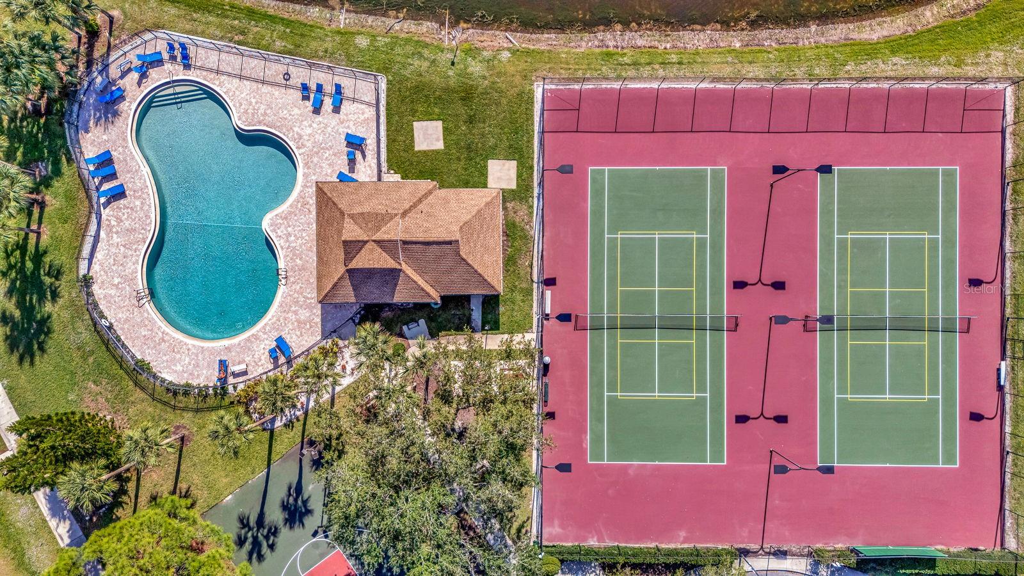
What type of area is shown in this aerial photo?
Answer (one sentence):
This image shows a sports ground.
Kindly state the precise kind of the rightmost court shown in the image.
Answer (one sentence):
From above, the rightmost court can be identified as a tennis court.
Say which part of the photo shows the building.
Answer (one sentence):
The building is in the center part of the image.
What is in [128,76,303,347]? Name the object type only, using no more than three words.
swimming pool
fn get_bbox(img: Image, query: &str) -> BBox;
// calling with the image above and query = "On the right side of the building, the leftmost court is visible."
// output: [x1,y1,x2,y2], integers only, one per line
[544,87,772,547]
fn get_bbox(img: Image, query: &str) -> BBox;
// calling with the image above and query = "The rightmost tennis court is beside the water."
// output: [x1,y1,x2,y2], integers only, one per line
[772,87,1004,547]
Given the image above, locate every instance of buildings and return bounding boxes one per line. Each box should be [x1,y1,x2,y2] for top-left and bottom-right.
[315,181,503,304]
